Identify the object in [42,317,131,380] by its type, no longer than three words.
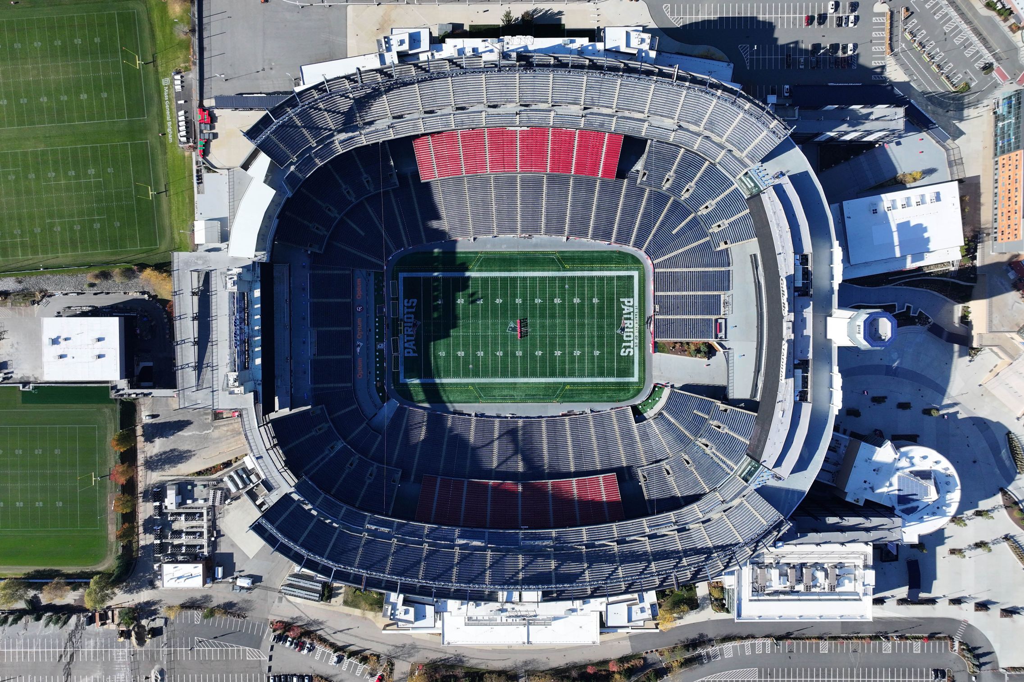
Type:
shed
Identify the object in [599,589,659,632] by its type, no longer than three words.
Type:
building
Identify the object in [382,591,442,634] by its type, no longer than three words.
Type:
building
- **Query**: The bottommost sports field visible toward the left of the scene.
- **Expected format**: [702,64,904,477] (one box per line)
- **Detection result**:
[0,409,98,530]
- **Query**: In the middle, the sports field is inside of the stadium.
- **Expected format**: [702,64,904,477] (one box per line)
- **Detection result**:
[384,235,655,421]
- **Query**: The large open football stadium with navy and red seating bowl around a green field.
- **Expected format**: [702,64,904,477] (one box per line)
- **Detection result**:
[225,40,841,608]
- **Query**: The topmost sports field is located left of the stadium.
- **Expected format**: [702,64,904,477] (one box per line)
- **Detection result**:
[0,10,146,129]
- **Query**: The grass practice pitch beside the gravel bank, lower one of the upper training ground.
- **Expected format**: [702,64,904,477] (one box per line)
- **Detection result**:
[0,141,159,259]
